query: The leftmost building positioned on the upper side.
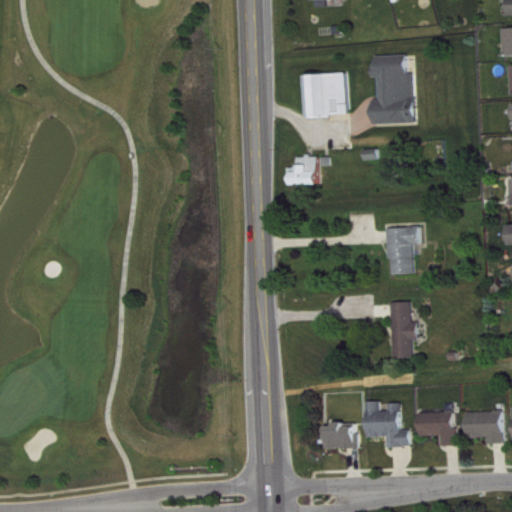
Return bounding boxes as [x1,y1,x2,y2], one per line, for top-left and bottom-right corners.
[282,154,322,187]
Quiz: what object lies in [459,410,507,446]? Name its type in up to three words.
house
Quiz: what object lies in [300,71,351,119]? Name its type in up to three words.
building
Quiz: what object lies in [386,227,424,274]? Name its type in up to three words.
house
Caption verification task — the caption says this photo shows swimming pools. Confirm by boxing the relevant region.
[490,64,505,78]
